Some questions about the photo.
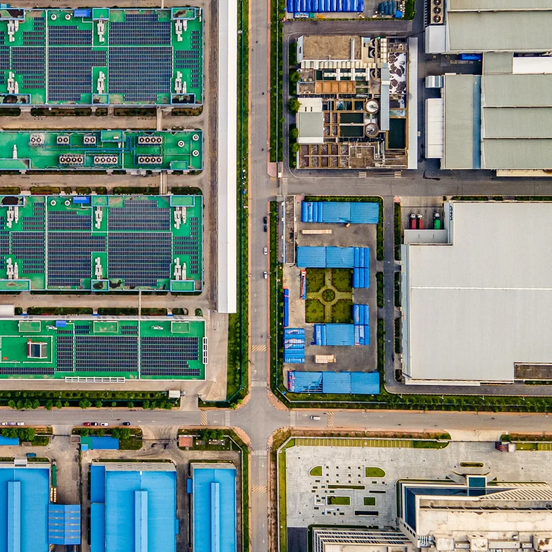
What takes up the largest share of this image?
buildings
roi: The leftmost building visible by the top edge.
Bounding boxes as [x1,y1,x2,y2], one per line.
[0,7,204,110]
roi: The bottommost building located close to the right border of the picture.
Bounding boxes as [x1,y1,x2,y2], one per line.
[394,473,552,552]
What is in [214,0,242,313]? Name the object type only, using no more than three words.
shed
